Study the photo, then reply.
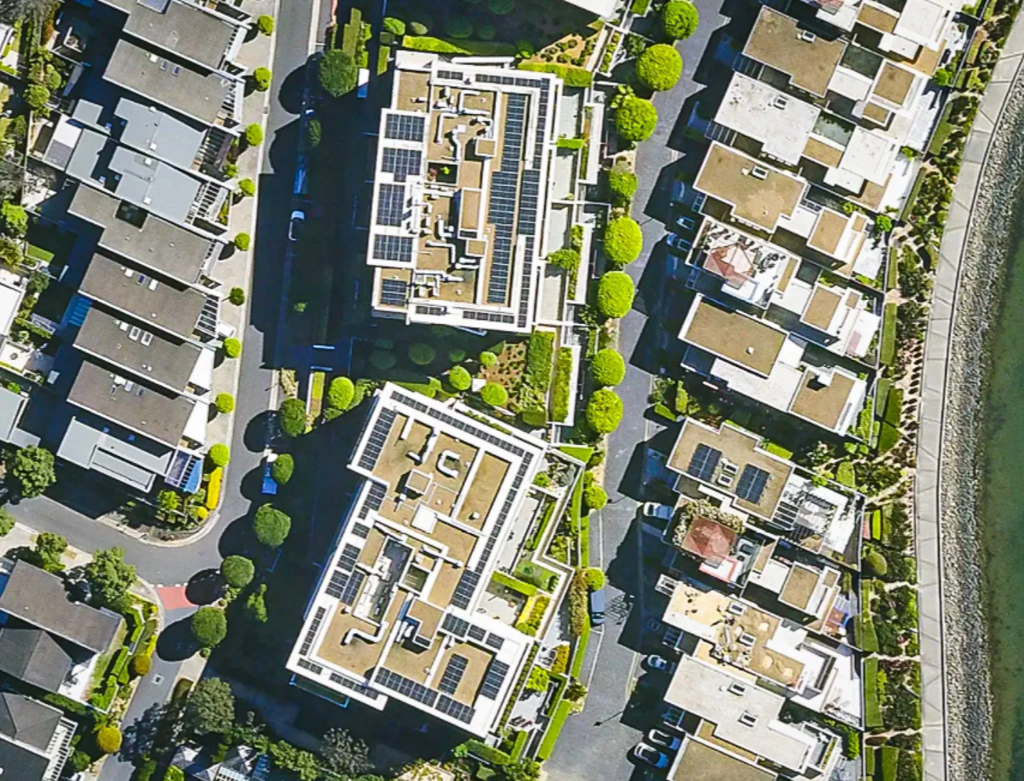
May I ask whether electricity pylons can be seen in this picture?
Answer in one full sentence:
No, I find no electricity pylon anywhere in the image.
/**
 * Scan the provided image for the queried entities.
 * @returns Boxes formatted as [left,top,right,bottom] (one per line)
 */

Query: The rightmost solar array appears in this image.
[735,463,770,504]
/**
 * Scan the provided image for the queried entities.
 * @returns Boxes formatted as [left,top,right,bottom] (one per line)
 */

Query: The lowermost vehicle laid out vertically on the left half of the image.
[262,453,279,495]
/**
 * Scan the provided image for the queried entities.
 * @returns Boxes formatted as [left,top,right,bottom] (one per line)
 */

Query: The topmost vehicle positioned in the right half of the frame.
[669,175,689,206]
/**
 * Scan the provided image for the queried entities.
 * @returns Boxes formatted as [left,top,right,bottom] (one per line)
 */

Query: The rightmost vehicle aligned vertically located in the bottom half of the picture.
[590,590,606,624]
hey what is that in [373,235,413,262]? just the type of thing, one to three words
solar array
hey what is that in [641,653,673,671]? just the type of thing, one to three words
car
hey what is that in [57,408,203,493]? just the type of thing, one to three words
house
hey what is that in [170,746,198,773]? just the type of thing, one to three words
umbrella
